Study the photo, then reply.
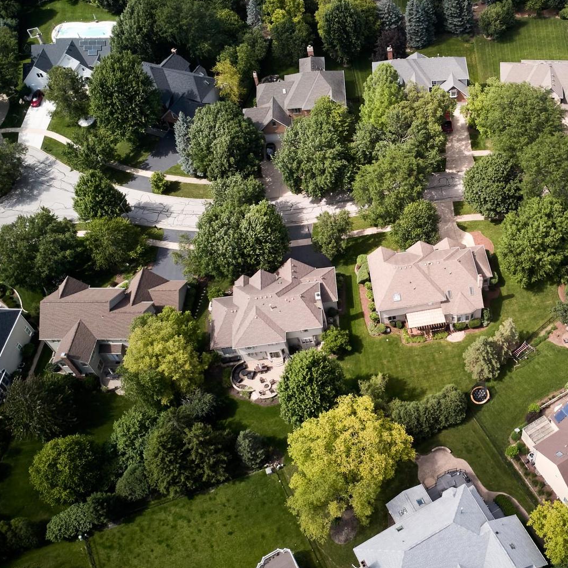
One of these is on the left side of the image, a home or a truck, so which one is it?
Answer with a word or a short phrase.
home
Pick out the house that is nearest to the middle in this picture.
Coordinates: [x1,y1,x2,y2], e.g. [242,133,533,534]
[210,248,338,366]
